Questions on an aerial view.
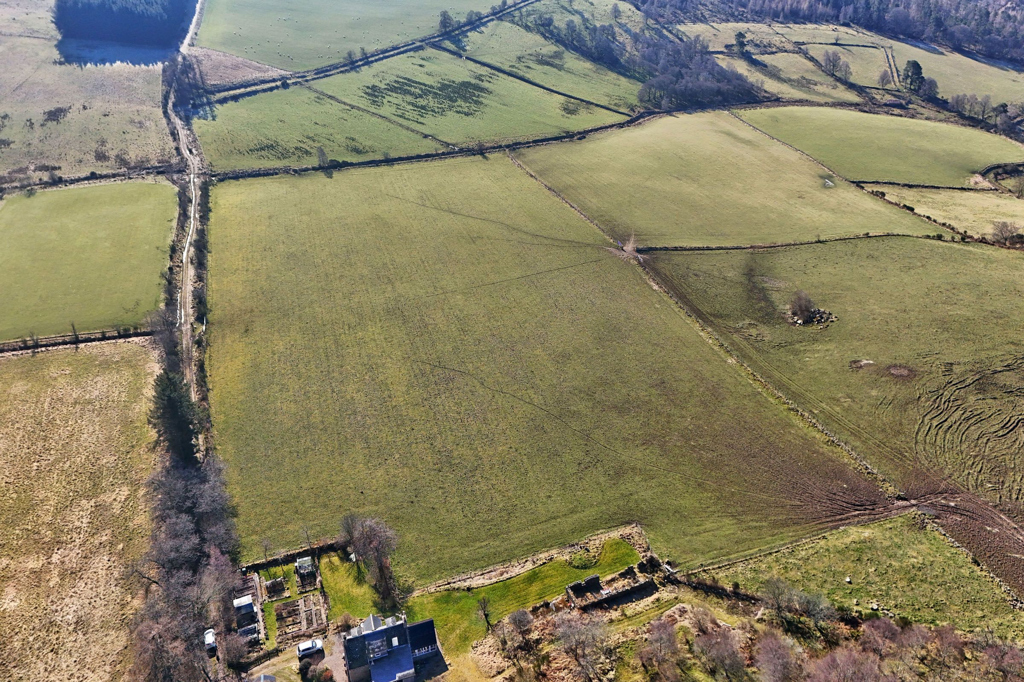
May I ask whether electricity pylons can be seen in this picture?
No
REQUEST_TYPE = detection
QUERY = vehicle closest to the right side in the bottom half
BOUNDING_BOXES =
[296,644,322,660]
